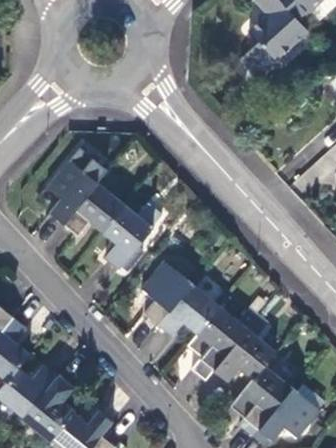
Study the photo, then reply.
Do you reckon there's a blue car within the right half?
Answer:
No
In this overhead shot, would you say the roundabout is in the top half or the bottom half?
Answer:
top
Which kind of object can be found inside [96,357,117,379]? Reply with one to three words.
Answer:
car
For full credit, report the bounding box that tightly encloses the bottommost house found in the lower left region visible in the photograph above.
[52,409,113,448]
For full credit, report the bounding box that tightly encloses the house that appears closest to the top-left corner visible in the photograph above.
[70,136,118,183]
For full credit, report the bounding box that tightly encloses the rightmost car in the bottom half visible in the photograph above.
[232,430,252,448]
